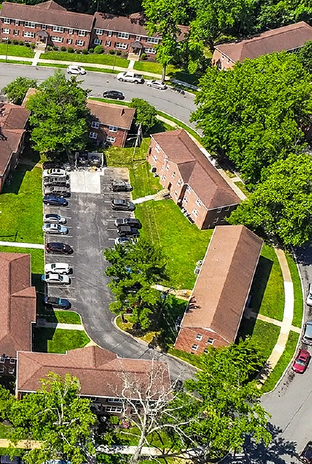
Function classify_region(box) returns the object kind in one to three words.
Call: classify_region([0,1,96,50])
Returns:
house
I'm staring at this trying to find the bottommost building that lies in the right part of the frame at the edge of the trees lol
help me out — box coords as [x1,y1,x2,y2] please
[176,226,264,357]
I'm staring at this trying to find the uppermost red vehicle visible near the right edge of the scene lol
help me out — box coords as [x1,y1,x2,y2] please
[292,350,310,374]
